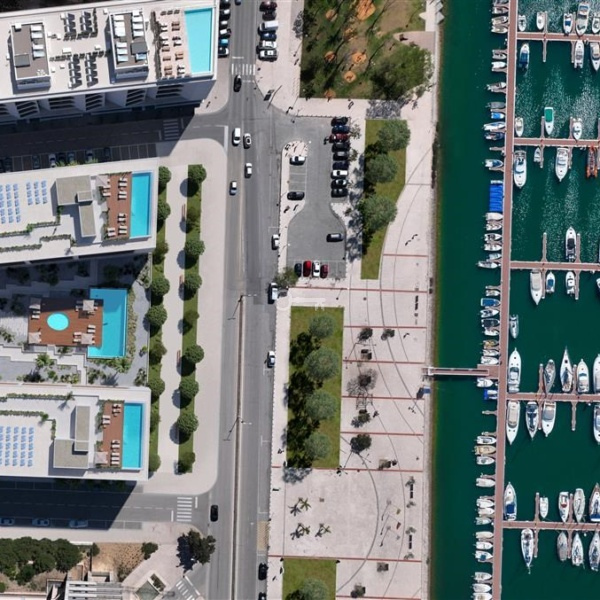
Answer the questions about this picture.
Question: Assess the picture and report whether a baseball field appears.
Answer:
No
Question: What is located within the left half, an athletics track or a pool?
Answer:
pool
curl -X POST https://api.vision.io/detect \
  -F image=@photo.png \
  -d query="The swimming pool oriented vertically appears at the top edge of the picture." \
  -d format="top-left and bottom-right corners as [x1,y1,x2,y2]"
[182,6,214,76]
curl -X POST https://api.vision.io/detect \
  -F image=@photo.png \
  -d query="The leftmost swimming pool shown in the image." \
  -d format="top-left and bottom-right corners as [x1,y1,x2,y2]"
[46,311,70,330]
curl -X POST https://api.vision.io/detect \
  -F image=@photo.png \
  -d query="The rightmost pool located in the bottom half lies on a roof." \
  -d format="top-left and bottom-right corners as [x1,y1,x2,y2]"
[120,401,145,469]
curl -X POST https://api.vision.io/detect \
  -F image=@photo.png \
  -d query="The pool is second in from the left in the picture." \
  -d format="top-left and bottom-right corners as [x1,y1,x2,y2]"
[87,288,128,359]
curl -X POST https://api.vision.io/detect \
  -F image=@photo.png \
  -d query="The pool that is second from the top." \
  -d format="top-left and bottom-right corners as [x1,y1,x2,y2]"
[128,172,154,239]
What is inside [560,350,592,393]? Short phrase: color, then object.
white boat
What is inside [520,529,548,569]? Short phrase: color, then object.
white boat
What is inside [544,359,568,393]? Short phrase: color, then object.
gray boat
